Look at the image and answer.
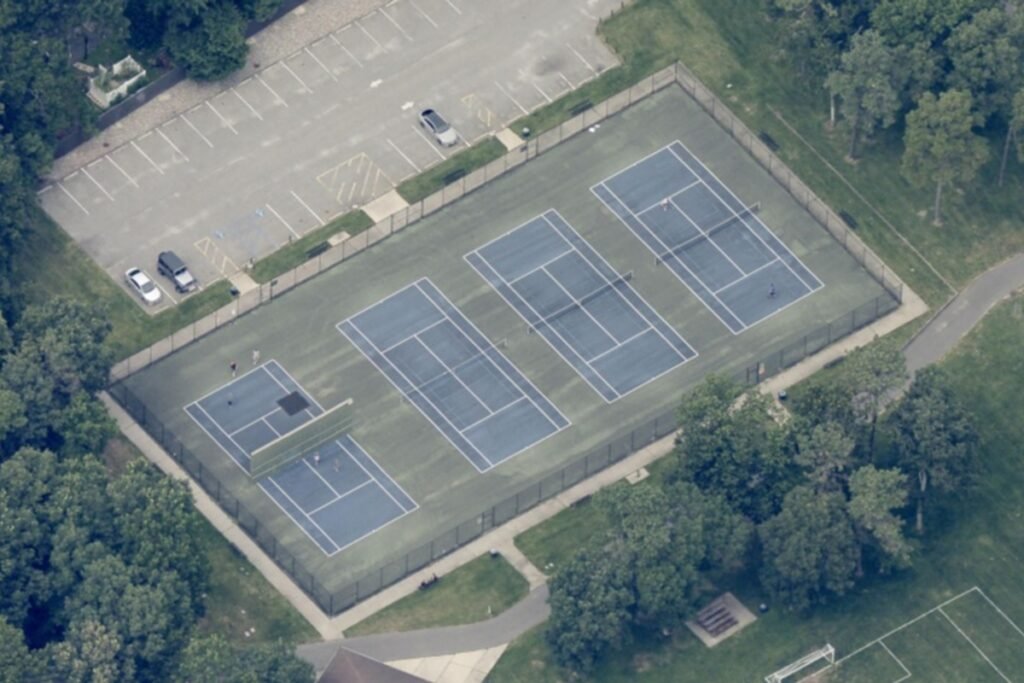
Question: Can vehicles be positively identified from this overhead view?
Yes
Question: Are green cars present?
No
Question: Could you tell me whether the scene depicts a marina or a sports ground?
sports ground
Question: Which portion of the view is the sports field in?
bottom right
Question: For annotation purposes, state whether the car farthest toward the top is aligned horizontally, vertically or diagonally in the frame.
diagonally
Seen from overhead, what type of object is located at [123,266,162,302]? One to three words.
car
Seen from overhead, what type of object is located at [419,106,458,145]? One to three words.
car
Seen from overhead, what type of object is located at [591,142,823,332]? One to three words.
tennis court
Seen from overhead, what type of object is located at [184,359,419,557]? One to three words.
tennis court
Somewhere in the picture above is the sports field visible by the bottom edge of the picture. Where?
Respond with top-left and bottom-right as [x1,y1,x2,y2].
[803,584,1024,683]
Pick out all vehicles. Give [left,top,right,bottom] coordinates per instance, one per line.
[154,248,194,288]
[123,266,162,302]
[419,106,458,145]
